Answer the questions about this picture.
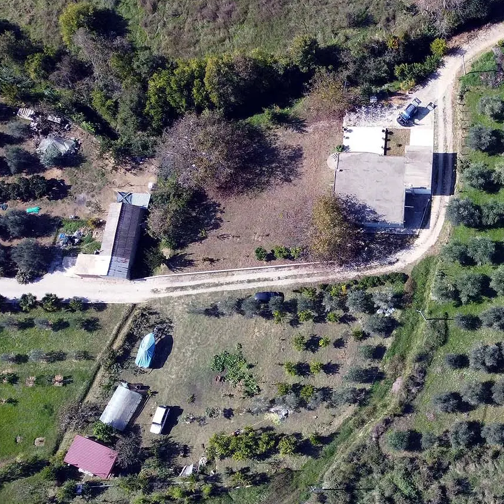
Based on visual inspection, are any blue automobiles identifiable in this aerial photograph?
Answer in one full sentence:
Yes, there's a blue automobile down there.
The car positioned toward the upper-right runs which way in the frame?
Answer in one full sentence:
In this picture, the car positioned toward the upper-right lies on a diagonal.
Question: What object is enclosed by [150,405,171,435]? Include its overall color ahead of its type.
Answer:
white car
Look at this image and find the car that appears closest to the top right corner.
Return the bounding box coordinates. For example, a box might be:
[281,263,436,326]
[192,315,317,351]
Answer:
[398,97,419,127]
